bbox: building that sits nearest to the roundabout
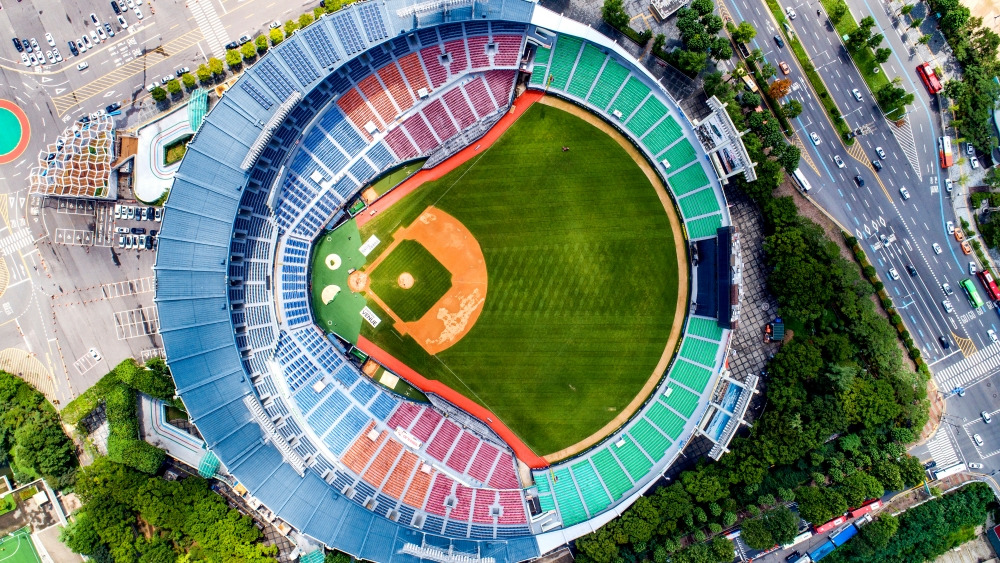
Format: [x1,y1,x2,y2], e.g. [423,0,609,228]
[28,111,113,197]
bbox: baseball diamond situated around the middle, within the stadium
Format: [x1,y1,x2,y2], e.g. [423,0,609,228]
[311,88,688,469]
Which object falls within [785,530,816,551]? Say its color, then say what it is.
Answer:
white bus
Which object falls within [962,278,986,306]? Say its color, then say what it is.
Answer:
green bus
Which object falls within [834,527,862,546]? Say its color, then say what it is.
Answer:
blue vehicle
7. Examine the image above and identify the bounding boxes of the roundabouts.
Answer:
[0,109,21,153]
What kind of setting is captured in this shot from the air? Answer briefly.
sports ground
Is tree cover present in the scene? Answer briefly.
Yes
